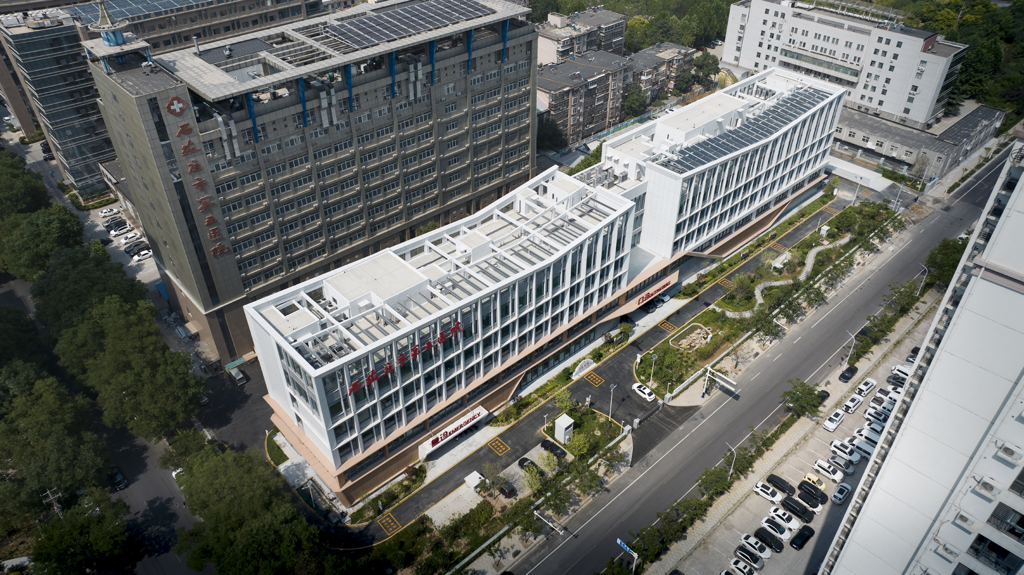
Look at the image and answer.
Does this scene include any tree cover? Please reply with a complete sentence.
Yes, there's tree cover in this view.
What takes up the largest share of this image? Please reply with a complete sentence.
The largest share of the image is taken up by buildings.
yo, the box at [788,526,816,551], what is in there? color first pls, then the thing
black car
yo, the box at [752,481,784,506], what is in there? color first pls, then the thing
white car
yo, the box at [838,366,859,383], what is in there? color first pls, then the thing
black car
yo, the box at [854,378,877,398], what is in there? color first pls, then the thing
white car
